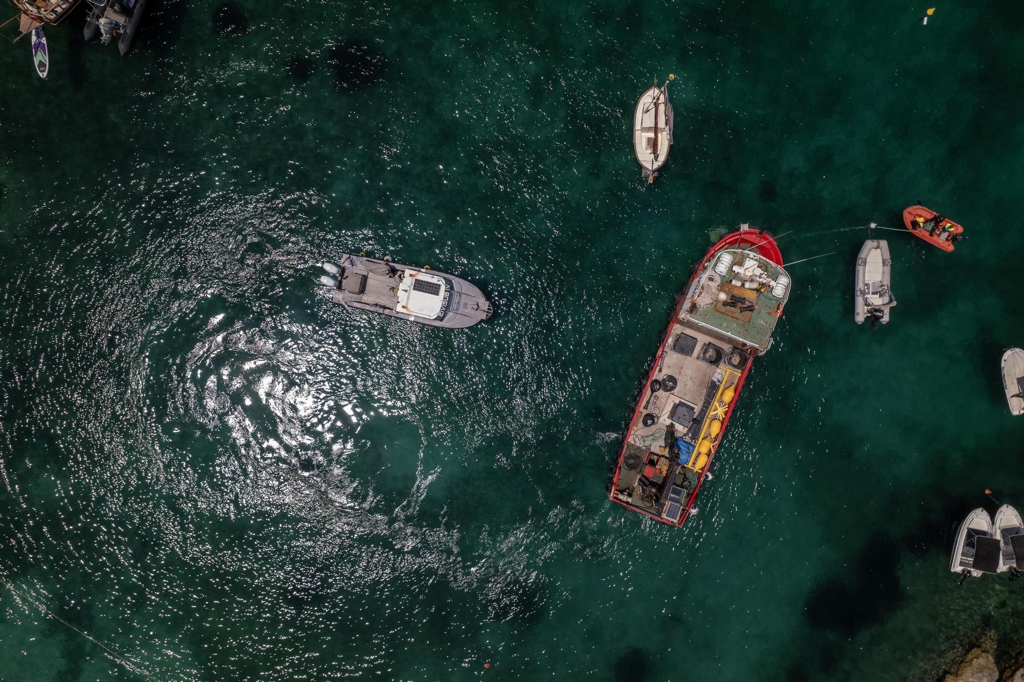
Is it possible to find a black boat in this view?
Yes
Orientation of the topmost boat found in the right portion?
from top to bottom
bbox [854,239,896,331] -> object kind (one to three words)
boat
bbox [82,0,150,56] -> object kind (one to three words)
boat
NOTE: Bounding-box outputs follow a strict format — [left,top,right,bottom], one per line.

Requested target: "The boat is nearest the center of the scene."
[320,252,493,329]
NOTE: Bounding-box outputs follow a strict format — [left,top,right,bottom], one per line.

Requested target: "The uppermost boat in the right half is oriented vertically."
[633,75,674,183]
